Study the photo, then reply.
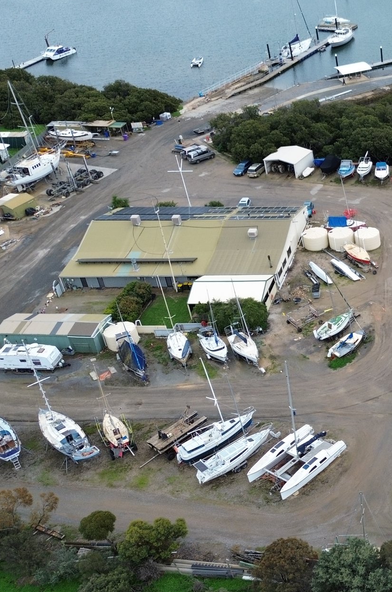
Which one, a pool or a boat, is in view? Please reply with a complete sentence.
Looking from above, you can make out a boat.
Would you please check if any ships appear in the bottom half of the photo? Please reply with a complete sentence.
Yes, the scene does show a ship in the bottom half of the photo.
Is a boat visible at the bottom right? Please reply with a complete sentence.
Yes, you'll find a boat at the bottom right.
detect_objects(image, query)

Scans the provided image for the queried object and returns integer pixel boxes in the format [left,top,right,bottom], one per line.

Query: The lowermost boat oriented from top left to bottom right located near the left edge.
[17,340,94,471]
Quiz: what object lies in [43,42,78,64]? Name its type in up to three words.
ship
